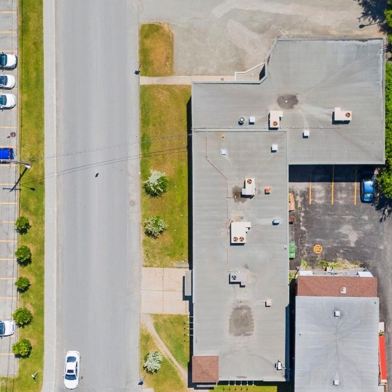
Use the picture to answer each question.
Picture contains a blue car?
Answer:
Yes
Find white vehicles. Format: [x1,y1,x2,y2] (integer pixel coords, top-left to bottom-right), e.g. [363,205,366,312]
[0,51,18,69]
[0,92,17,111]
[0,71,17,91]
[0,321,16,339]
[62,350,80,389]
